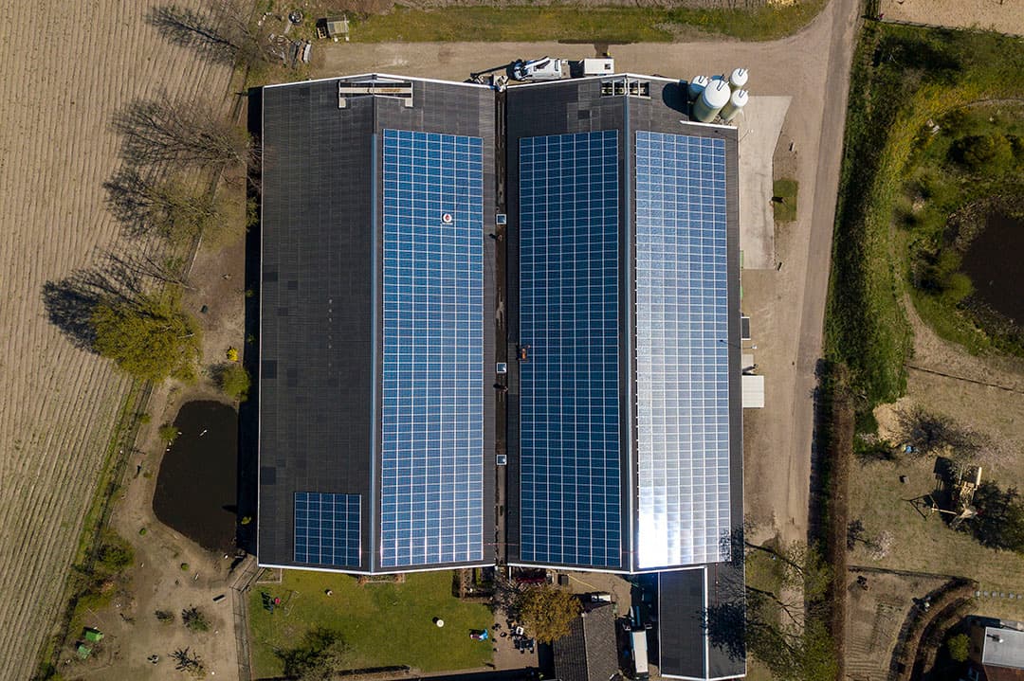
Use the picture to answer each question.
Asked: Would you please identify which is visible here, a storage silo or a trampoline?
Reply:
storage silo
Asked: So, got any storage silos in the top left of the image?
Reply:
No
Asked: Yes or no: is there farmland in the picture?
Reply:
Yes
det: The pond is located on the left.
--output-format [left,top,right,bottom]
[153,398,240,553]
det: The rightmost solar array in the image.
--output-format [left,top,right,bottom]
[635,131,732,568]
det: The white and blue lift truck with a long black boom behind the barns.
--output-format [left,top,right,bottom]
[471,57,567,82]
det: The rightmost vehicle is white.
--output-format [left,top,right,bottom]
[623,618,653,677]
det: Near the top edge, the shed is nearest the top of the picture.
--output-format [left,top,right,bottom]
[324,14,347,43]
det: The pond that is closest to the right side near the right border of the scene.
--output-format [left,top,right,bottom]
[963,210,1024,333]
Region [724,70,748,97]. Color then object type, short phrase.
white silo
